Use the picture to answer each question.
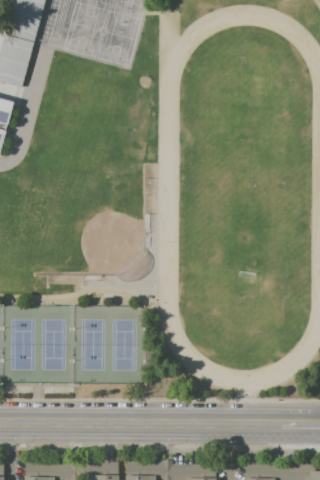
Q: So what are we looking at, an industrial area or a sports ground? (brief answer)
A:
sports ground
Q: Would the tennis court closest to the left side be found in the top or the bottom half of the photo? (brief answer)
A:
bottom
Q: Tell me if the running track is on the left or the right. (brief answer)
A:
right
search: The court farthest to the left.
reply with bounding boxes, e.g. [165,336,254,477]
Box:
[9,320,36,370]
